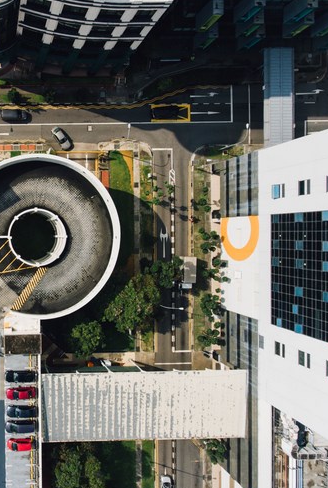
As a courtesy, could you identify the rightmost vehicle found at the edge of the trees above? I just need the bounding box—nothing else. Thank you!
[177,256,197,290]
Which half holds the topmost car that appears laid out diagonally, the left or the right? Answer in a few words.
left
